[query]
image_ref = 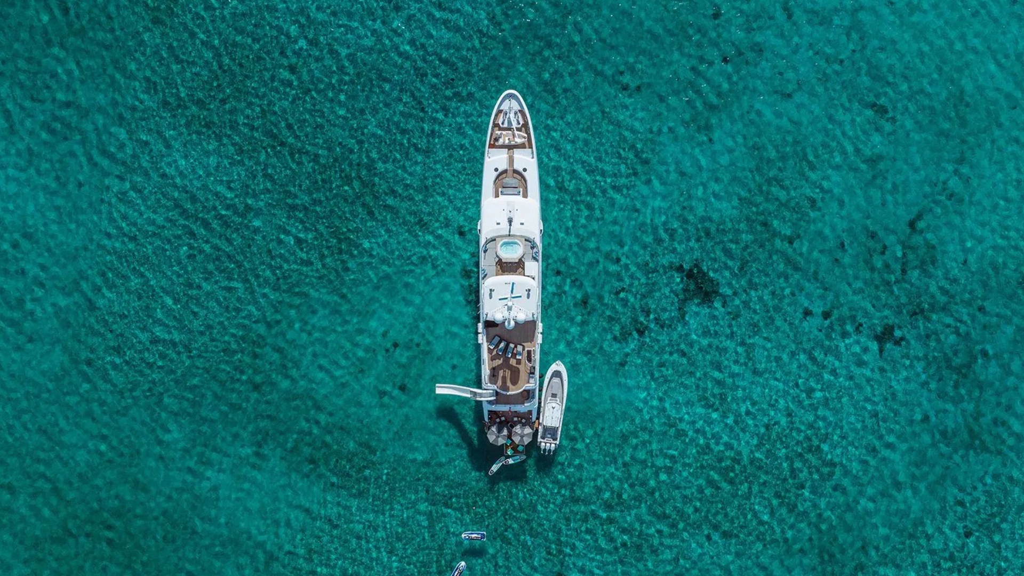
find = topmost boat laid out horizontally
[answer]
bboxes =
[494,131,527,145]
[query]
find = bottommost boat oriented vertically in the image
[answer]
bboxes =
[538,360,568,454]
